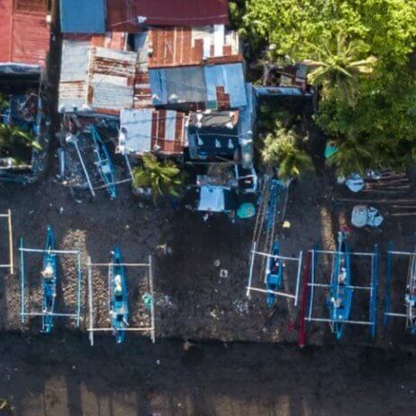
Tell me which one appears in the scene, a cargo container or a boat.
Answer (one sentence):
This aerial view contains a boat.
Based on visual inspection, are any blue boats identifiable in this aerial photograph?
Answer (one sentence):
Yes, there is a blue boat in the image.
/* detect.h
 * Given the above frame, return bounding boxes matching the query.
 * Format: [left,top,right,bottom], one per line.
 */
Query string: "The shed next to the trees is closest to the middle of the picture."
[197,185,236,211]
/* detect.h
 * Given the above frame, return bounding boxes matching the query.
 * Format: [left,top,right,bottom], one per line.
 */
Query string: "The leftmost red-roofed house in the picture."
[0,0,79,69]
